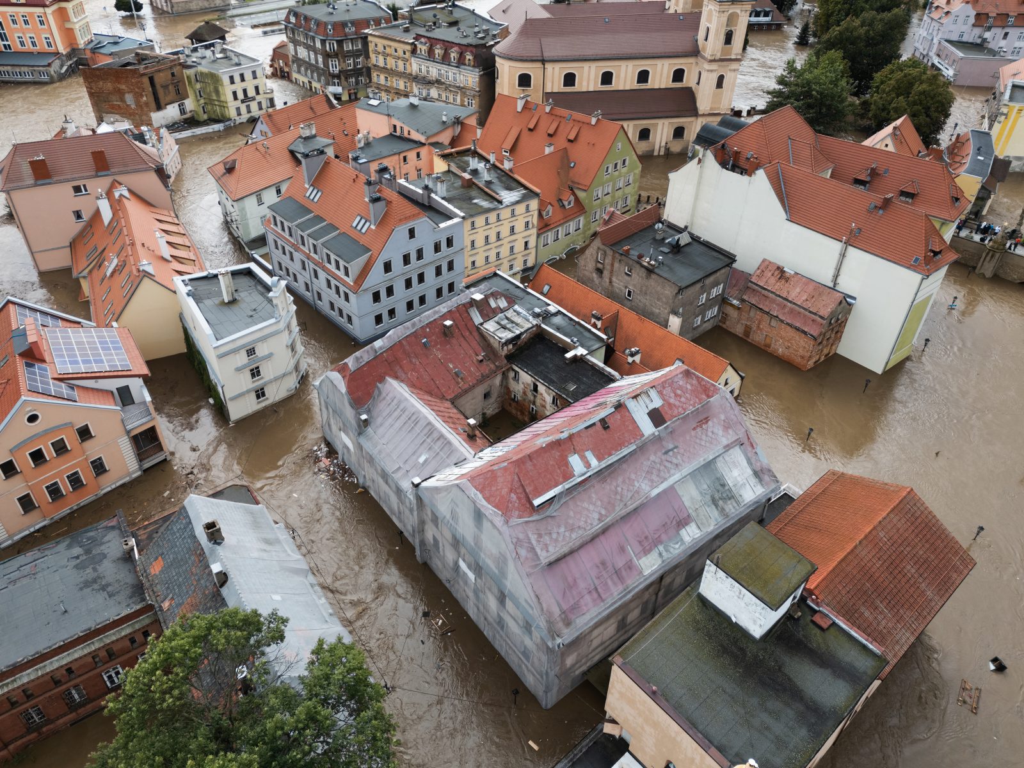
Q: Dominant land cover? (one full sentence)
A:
What you mostly see from above here is buildings.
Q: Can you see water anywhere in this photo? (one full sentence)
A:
Yes, the picture does contain water.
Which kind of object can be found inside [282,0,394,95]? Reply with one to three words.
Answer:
building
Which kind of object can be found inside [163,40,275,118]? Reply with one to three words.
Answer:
house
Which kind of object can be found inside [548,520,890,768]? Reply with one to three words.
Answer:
building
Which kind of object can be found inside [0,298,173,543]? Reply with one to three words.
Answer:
house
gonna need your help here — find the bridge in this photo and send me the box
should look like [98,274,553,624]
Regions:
[950,215,1024,290]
